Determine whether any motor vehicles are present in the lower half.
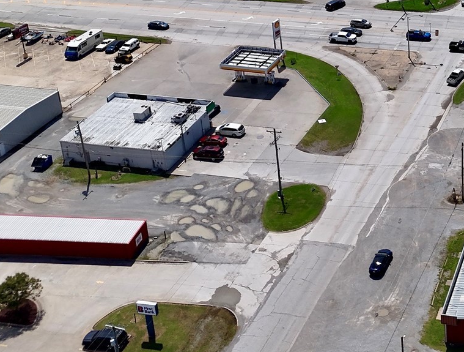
Yes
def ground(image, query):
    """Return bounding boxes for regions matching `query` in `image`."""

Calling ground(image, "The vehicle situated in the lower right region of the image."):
[368,247,393,275]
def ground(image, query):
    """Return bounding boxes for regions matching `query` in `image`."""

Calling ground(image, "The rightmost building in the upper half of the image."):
[56,92,211,174]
